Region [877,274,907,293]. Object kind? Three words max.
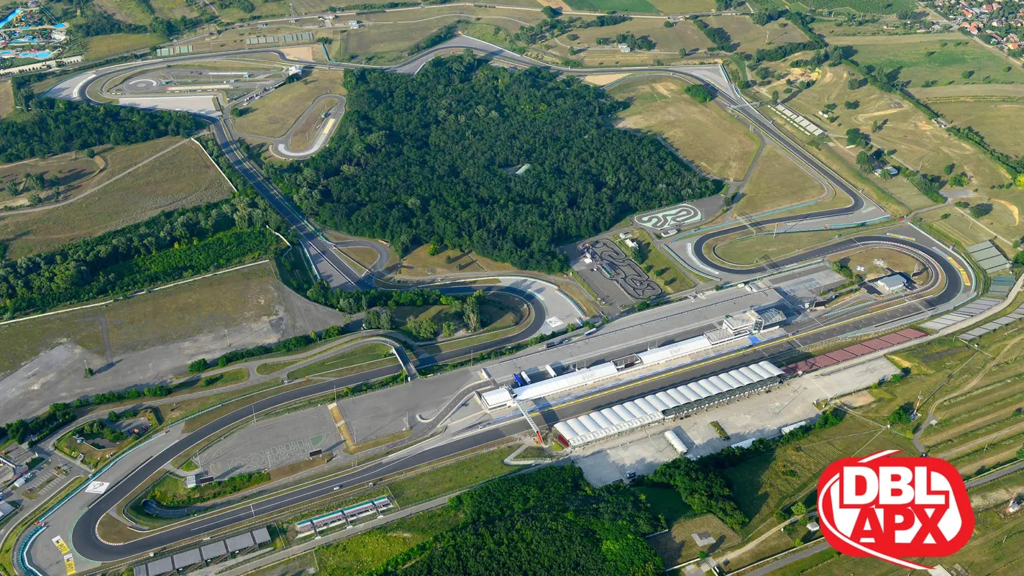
building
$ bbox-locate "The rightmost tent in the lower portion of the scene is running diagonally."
[662,430,689,456]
